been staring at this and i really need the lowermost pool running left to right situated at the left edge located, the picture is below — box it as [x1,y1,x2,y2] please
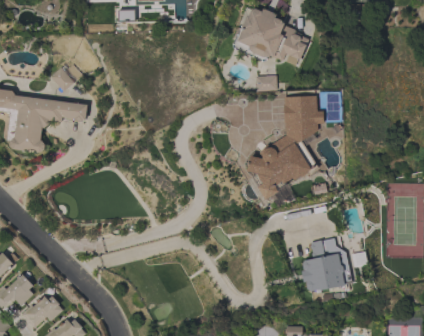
[8,52,39,66]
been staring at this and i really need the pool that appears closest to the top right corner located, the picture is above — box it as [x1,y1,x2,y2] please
[316,138,341,167]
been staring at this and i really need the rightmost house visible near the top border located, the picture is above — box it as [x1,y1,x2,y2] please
[236,8,312,64]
